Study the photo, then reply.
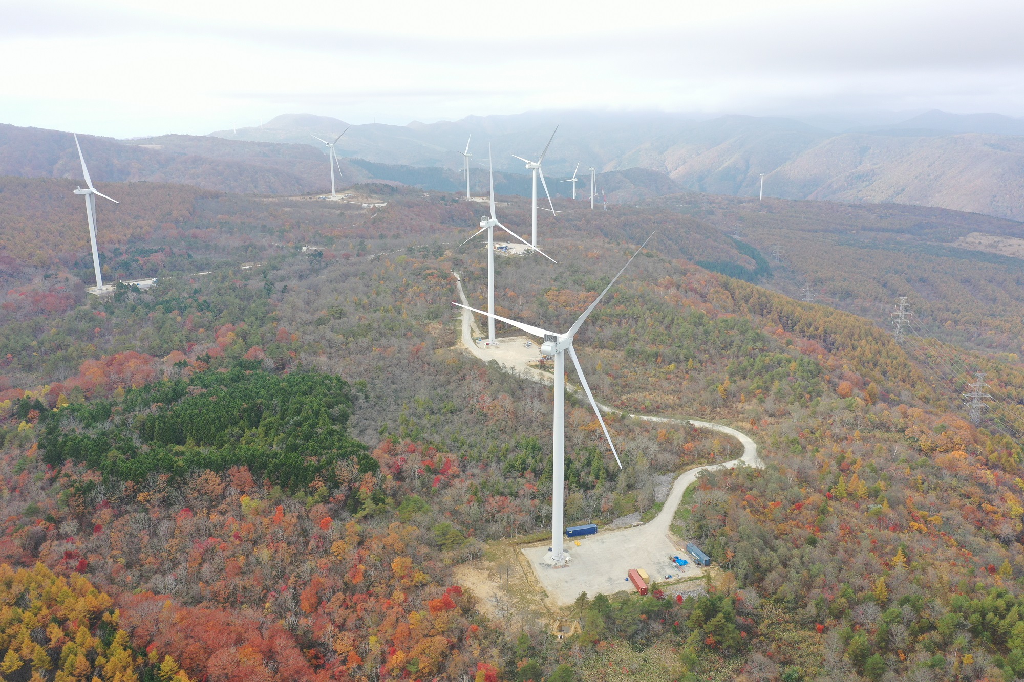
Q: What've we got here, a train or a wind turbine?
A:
wind turbine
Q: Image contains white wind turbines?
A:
Yes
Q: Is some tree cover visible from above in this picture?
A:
Yes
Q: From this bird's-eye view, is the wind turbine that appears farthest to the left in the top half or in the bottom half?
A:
top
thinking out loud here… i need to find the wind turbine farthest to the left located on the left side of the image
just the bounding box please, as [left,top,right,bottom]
[76,132,120,288]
